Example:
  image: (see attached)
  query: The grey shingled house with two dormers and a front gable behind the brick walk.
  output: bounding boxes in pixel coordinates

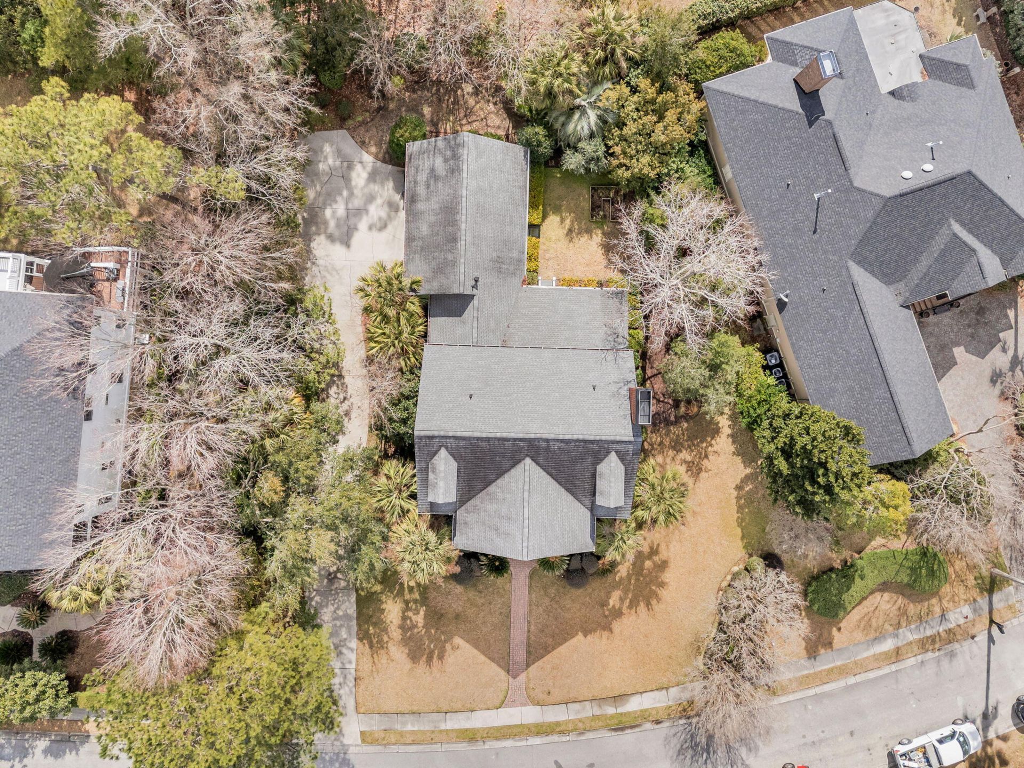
[403,132,653,560]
